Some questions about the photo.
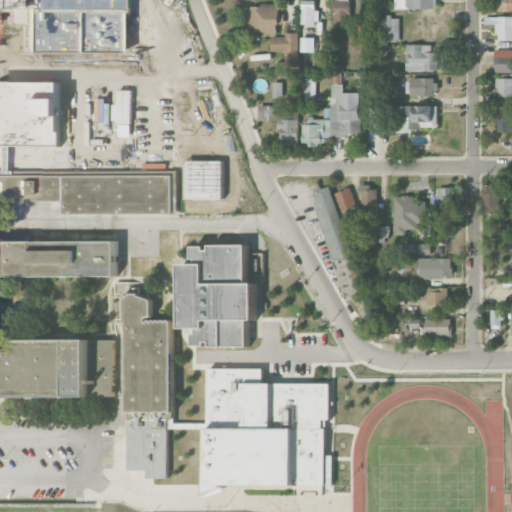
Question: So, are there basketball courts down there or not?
No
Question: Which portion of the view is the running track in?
bottom right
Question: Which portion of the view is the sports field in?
bottom right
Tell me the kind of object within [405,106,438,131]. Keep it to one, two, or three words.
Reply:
house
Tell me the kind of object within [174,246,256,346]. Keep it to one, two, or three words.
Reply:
building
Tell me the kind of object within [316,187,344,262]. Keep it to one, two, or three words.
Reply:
shed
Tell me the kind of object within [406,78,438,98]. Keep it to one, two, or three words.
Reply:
house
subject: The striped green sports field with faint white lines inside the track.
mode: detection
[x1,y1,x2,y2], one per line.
[370,445,483,512]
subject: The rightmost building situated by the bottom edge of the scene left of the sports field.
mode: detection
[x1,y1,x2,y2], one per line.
[201,368,332,486]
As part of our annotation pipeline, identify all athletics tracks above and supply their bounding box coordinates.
[353,386,504,512]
